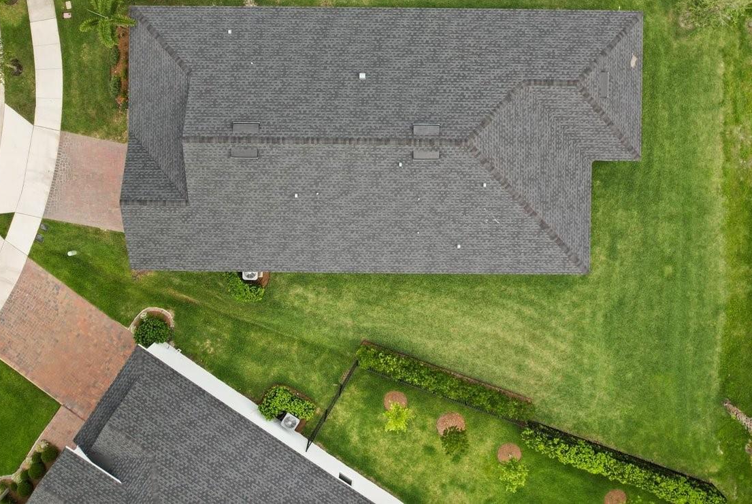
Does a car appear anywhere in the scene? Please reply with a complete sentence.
No, there appears to be no car in this shot.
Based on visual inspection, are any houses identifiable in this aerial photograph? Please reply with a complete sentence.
Yes, the picture does show a house.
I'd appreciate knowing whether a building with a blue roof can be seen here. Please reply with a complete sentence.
No, there's no building with a blue roof here.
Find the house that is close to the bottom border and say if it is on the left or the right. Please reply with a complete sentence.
The house that is close to the bottom border appears in the left half of the scene.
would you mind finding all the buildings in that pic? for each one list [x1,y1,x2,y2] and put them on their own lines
[23,341,405,504]
[118,4,645,275]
